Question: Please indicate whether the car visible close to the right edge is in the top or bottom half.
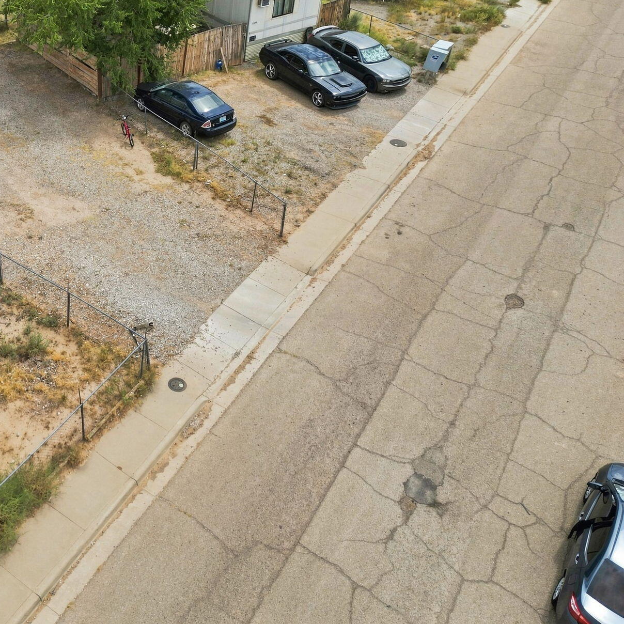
bottom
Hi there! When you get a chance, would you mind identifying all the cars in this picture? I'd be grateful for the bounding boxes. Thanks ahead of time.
[131,73,240,141]
[549,453,624,624]
[304,23,418,90]
[258,37,372,111]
